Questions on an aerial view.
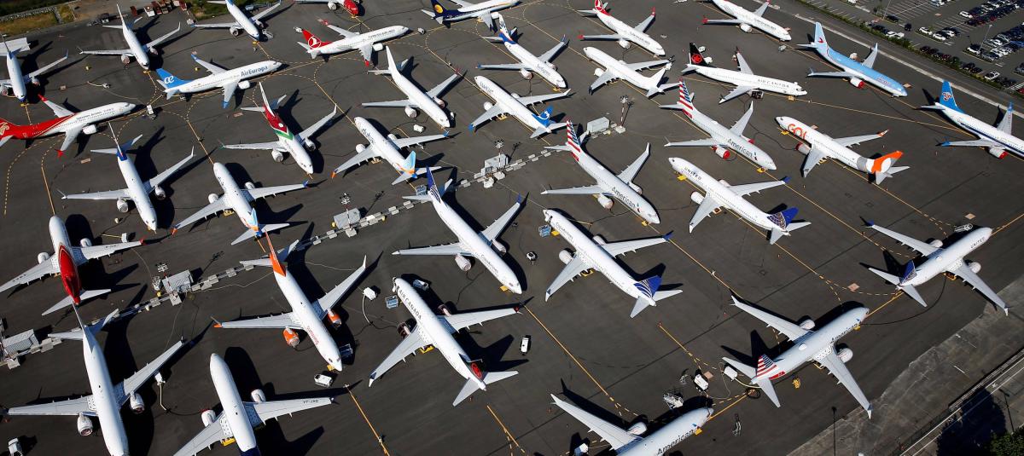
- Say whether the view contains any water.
No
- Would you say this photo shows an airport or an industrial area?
airport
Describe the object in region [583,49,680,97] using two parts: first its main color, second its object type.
white airplane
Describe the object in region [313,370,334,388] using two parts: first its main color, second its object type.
white vehicle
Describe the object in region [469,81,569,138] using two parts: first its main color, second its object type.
white airplane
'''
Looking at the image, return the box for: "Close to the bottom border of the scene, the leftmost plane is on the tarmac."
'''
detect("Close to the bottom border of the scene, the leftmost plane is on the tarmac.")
[0,302,191,456]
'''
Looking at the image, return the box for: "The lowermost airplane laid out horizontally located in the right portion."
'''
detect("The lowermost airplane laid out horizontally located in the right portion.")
[553,392,712,456]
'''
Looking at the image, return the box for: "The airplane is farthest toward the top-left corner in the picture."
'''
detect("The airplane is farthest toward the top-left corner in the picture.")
[0,33,74,108]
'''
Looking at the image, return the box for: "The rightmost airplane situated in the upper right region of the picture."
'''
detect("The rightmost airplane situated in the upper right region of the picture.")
[920,83,1024,164]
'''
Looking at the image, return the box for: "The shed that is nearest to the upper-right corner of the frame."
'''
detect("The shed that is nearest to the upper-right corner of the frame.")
[584,116,611,138]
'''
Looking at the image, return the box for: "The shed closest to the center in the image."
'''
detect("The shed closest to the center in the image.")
[478,150,511,175]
